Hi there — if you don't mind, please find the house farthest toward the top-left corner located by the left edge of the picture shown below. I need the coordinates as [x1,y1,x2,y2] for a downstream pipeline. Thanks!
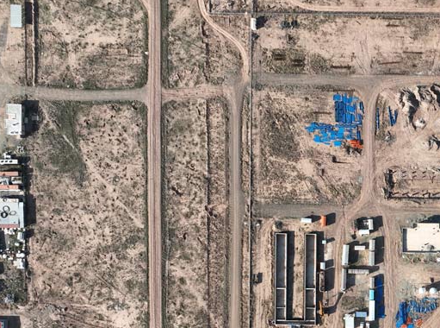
[6,104,26,139]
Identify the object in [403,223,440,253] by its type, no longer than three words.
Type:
building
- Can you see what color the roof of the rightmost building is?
white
